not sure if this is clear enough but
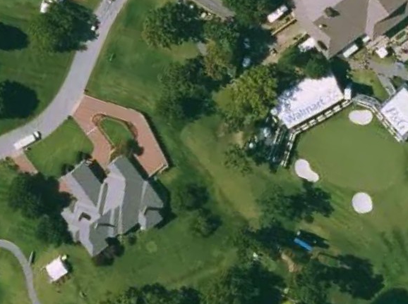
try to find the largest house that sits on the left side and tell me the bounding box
[60,158,165,256]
